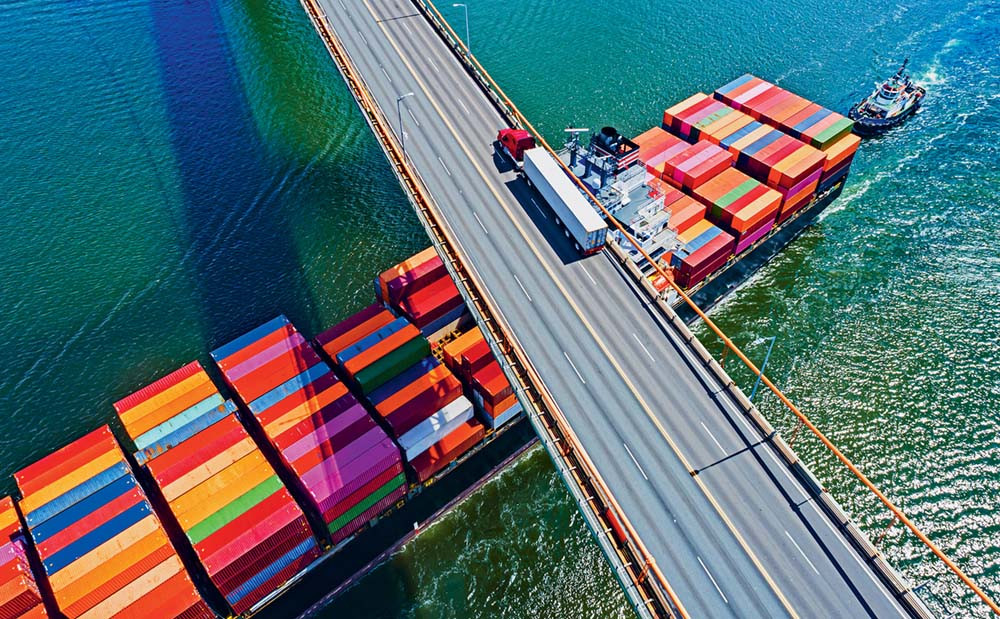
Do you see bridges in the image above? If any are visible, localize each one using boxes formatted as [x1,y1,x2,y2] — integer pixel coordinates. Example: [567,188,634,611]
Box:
[296,0,1000,619]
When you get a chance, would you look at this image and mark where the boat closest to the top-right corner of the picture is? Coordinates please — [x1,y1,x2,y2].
[843,53,934,131]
